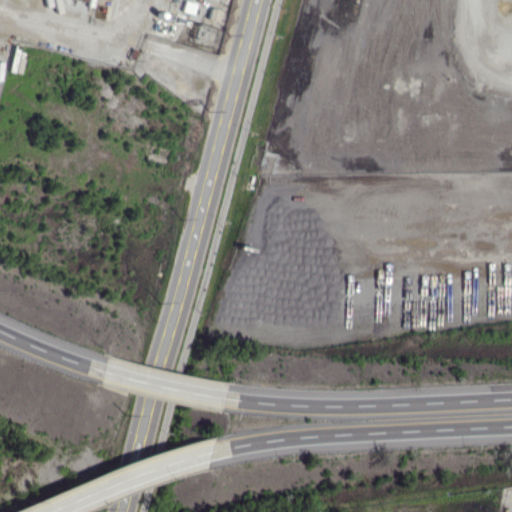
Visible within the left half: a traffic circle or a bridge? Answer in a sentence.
The feature located within the left half is a bridge.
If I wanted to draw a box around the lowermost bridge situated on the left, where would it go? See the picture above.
[22,437,218,512]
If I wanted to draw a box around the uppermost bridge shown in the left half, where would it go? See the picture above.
[100,358,233,415]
